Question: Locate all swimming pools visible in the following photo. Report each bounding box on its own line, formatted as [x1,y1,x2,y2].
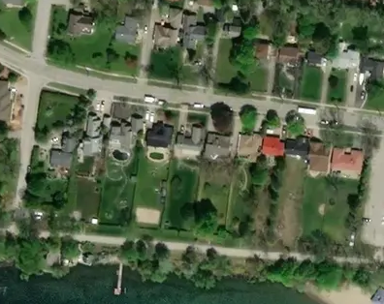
[148,150,166,162]
[111,149,131,160]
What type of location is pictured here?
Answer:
residential area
